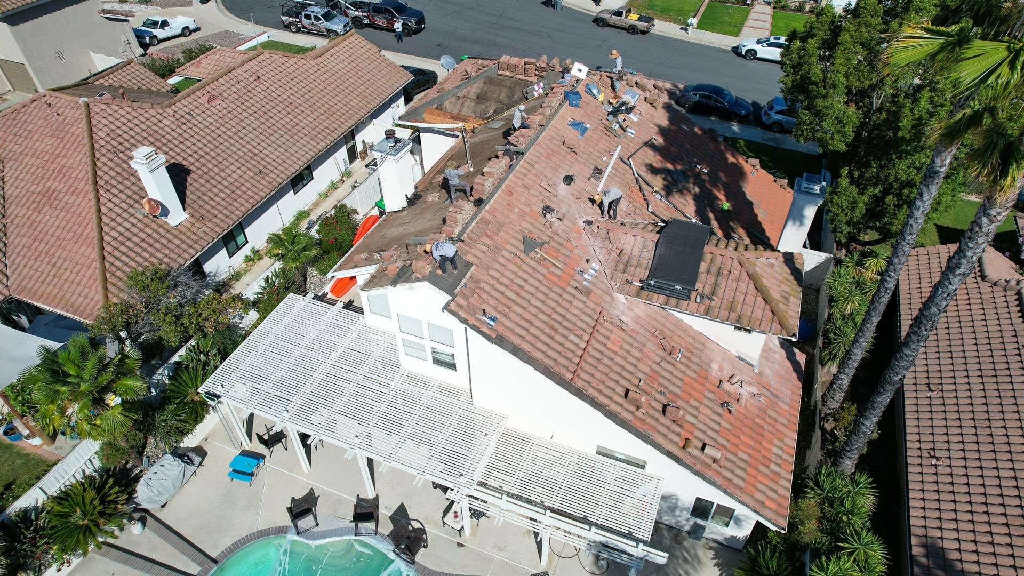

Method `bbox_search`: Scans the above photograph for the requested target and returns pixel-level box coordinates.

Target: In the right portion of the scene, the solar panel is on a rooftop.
[629,217,715,300]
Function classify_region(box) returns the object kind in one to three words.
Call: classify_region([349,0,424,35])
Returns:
truck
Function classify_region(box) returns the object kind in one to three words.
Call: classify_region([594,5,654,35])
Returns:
truck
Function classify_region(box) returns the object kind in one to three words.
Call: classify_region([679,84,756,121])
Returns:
car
